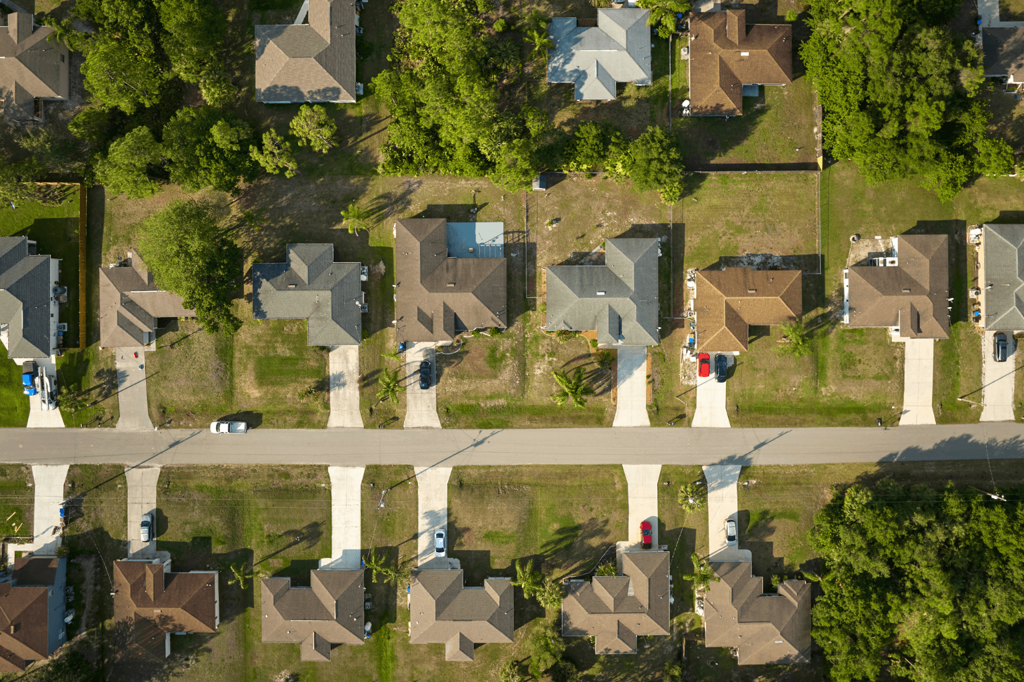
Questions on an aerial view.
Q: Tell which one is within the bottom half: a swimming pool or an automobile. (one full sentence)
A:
There is an automobile within the bottom half.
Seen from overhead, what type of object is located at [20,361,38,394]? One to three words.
vehicle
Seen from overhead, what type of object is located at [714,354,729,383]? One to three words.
car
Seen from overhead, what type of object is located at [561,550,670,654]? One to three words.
house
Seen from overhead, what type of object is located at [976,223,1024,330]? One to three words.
house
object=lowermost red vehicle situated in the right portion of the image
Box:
[639,521,653,550]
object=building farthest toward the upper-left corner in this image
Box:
[0,11,77,122]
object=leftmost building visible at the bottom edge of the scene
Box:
[0,554,67,672]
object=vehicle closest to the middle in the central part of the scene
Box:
[418,361,431,389]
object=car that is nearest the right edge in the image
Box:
[992,333,1010,362]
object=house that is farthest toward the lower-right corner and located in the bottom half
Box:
[703,559,812,666]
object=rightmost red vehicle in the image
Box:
[698,353,712,377]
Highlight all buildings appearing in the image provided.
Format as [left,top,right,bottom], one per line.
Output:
[703,559,812,666]
[561,550,670,654]
[411,566,515,660]
[534,172,548,190]
[547,8,651,101]
[0,11,77,122]
[546,238,661,345]
[391,217,507,341]
[262,566,365,660]
[254,0,357,105]
[688,9,793,117]
[844,234,954,338]
[252,243,362,345]
[107,558,219,661]
[0,236,60,359]
[976,223,1024,330]
[692,266,802,351]
[0,554,67,672]
[975,26,1024,84]
[98,246,194,348]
